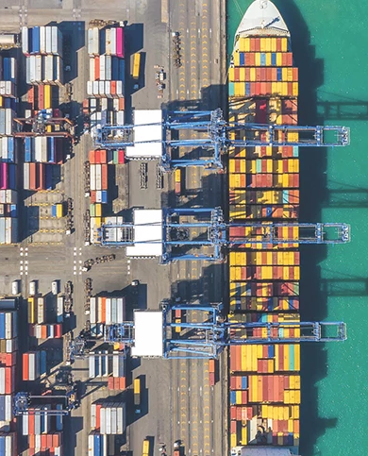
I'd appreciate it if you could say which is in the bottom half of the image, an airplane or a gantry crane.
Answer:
gantry crane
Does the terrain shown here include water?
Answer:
Yes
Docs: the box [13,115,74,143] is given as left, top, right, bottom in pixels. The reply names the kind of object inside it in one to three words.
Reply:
container crane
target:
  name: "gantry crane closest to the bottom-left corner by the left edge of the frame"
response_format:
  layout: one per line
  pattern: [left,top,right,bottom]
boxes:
[12,388,75,417]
